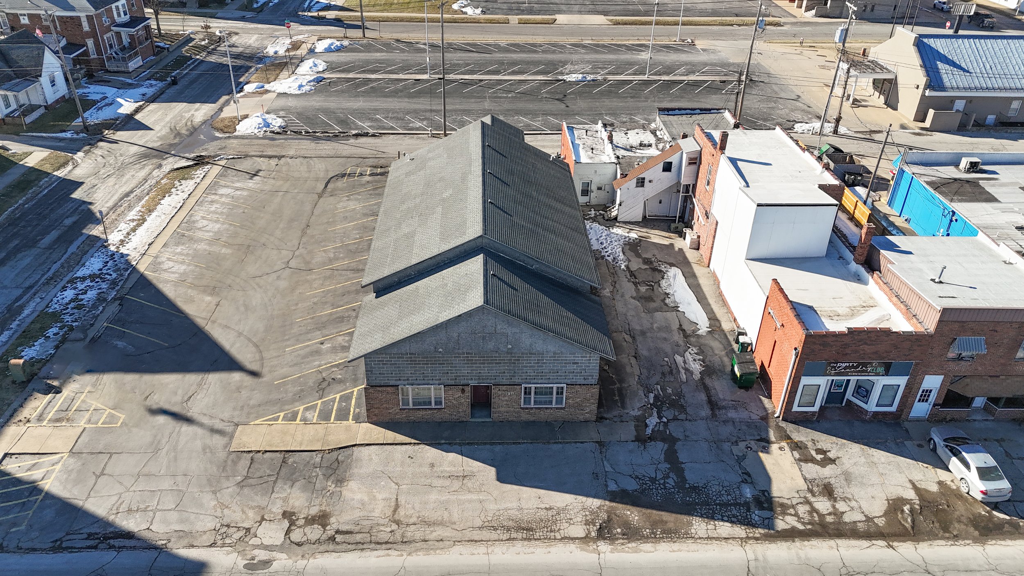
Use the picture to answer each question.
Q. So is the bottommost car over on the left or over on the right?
right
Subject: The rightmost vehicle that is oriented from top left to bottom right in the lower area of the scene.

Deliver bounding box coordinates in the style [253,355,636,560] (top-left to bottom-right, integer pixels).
[925,428,1018,504]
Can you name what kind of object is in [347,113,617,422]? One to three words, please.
building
